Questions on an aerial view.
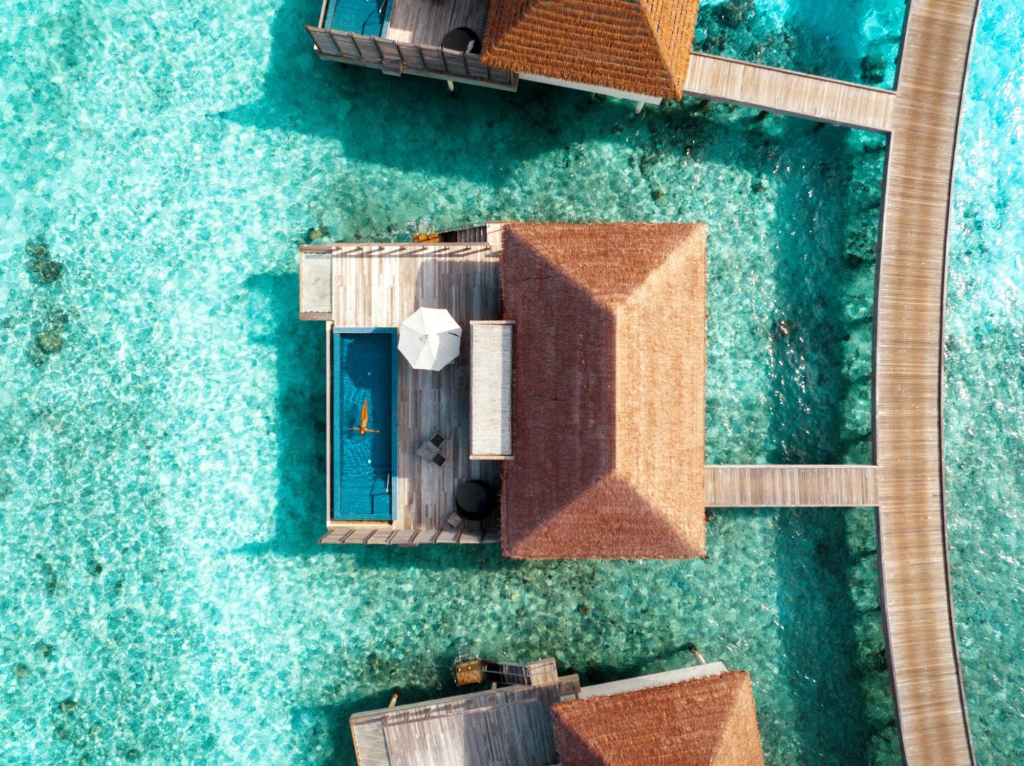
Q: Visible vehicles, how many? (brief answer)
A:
none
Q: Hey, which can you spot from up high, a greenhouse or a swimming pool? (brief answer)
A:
swimming pool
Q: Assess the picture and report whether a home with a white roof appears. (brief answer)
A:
No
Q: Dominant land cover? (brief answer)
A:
water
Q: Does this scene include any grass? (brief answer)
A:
No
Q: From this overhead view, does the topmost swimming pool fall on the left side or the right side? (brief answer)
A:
left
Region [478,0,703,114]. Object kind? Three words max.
house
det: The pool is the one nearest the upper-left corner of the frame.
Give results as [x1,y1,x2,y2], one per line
[313,0,395,47]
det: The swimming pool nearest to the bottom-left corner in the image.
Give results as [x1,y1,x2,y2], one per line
[326,321,398,528]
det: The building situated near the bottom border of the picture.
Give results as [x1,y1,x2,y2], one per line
[546,656,771,766]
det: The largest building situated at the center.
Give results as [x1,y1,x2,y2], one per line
[470,221,709,561]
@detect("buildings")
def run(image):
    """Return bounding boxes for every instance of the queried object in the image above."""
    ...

[478,0,703,114]
[546,656,771,766]
[470,221,709,561]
